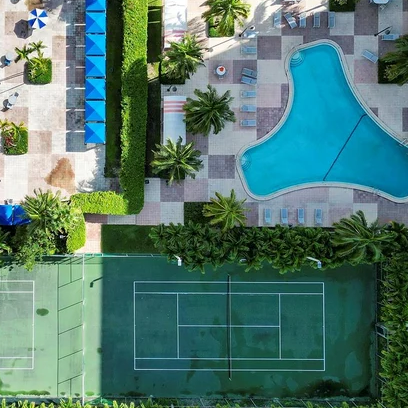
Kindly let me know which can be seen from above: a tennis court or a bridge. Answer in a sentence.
Of the two, only a tennis court appears.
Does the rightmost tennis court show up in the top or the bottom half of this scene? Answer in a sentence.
You can find the rightmost tennis court in the bottom half.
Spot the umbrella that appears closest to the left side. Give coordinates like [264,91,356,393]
[28,9,49,30]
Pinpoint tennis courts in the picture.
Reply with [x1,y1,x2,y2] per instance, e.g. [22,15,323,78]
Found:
[0,254,84,398]
[84,254,377,398]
